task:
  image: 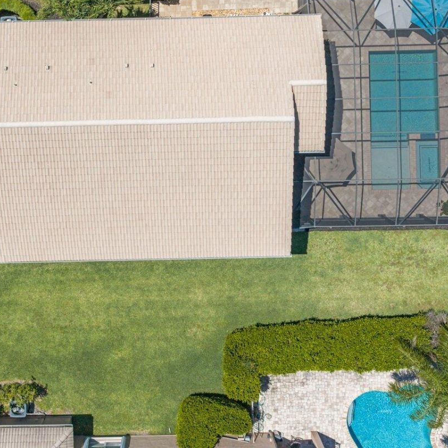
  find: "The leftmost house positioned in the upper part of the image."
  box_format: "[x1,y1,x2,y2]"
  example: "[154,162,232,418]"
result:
[0,12,328,265]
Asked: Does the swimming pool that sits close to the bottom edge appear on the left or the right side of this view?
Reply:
right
